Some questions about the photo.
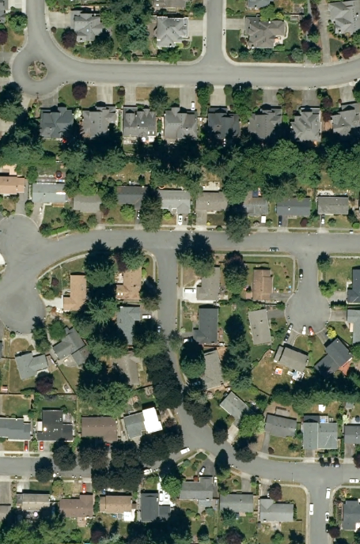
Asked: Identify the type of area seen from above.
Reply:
residential area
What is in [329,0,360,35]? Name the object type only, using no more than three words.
house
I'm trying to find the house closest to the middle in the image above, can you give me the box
[194,266,220,300]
